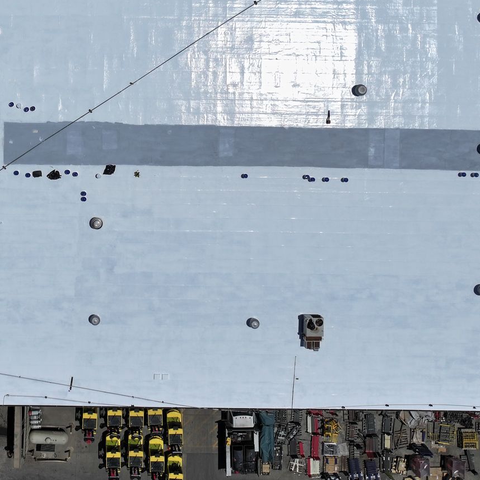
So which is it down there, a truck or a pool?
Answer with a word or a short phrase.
truck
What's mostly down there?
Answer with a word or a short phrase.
buildings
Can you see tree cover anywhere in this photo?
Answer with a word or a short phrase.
No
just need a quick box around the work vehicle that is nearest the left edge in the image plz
[81,410,99,442]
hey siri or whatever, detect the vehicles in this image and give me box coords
[163,411,184,458]
[145,411,163,438]
[81,410,99,442]
[222,412,257,477]
[105,411,123,438]
[126,411,145,439]
[146,433,166,480]
[104,430,123,480]
[163,450,184,480]
[125,426,144,480]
